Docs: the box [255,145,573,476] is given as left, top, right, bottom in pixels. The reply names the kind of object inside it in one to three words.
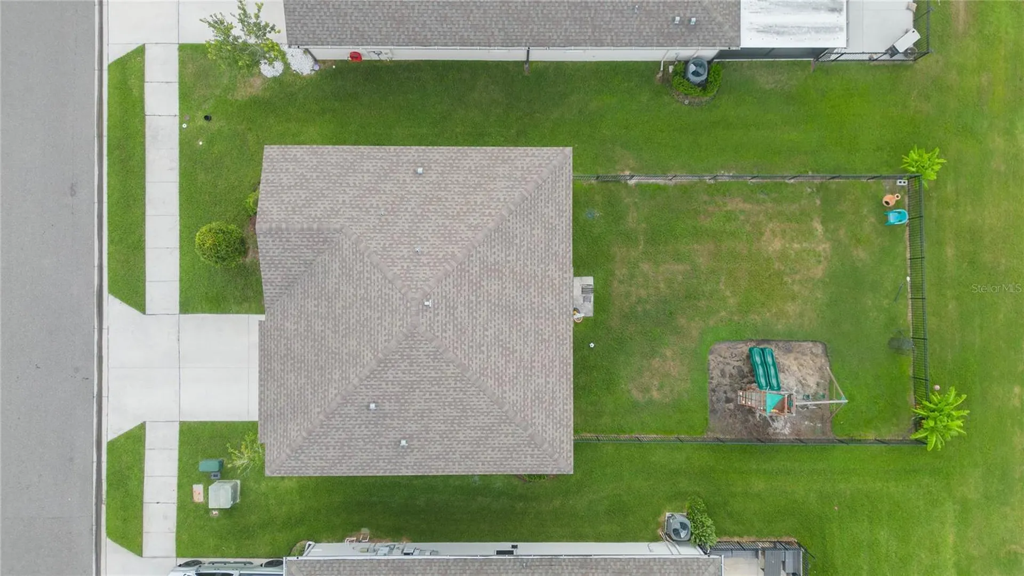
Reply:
house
